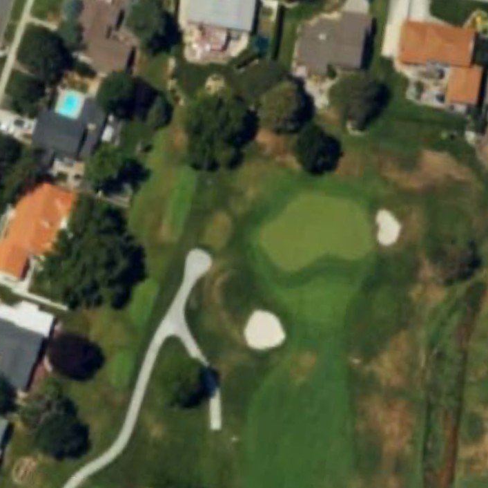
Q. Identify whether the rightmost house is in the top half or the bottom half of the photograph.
top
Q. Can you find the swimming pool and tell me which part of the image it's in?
top left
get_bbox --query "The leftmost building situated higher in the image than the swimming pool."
[69,0,136,77]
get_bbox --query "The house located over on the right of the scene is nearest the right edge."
[399,18,486,106]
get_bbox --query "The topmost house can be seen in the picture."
[182,0,258,31]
